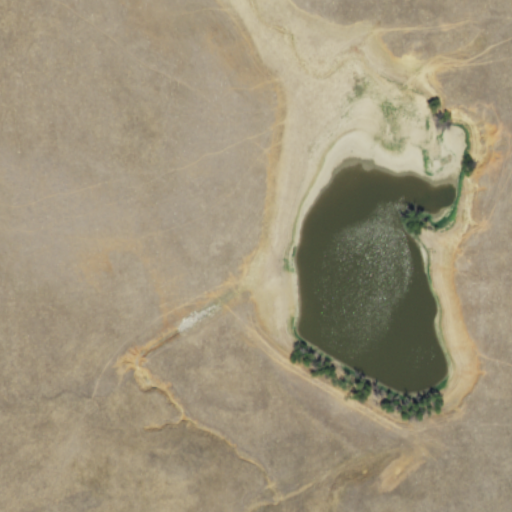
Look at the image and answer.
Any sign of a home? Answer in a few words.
No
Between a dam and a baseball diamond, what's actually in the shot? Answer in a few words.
dam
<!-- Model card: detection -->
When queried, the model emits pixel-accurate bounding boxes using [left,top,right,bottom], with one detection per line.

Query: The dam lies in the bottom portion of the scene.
[212,291,430,442]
